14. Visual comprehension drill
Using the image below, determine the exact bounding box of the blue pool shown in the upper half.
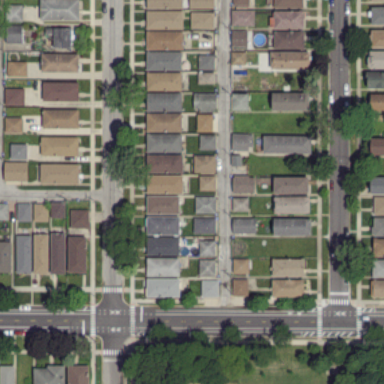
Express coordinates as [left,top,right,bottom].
[252,32,266,46]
